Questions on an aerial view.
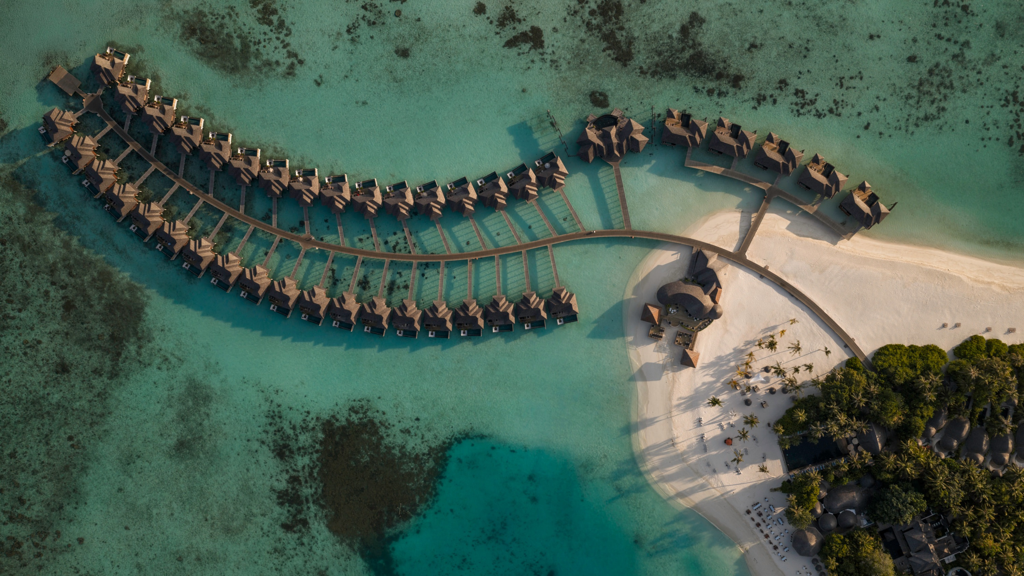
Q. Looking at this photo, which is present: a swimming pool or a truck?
swimming pool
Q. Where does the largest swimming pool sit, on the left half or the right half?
right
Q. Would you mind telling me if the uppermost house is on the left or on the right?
left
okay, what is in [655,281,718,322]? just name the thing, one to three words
building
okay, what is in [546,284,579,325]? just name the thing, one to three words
house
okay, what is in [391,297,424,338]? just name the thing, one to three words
house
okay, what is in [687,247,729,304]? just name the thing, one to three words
building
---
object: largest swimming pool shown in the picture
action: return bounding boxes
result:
[780,423,856,478]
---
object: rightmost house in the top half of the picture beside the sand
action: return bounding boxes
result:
[837,179,892,229]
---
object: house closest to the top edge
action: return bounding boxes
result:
[90,47,130,89]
